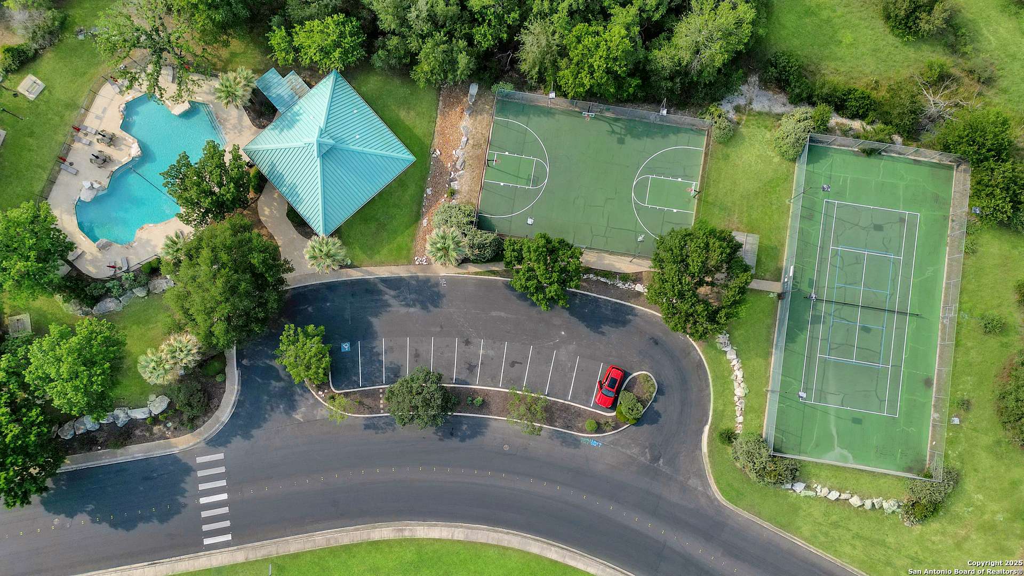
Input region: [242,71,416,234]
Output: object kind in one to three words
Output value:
building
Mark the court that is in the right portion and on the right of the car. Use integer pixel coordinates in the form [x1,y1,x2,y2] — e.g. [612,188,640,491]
[762,144,953,475]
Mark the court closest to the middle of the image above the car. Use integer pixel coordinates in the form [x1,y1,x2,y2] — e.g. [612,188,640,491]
[477,100,706,260]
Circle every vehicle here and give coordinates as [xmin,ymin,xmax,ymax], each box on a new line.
[595,365,623,408]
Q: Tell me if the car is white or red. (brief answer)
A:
red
